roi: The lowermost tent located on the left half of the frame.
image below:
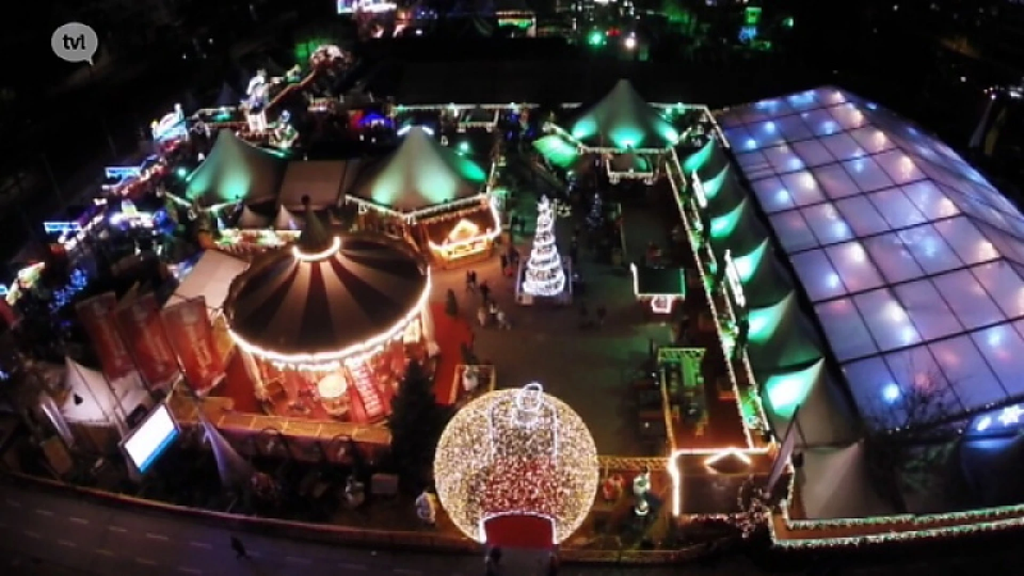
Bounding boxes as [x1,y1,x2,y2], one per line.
[57,363,156,451]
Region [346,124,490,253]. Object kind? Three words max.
tent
